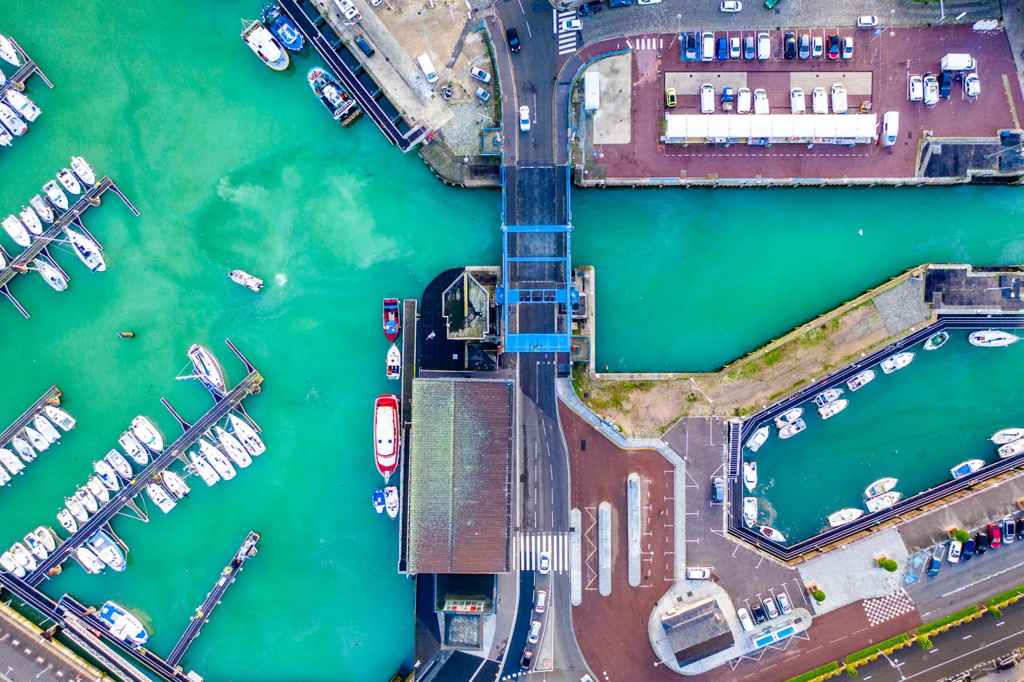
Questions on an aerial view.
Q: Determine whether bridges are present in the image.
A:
Yes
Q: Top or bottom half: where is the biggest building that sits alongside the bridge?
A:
bottom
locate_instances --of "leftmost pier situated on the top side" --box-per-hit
[0,36,56,117]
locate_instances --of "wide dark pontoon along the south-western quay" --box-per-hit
[0,563,64,621]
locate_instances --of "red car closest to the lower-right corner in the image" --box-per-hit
[987,523,1002,547]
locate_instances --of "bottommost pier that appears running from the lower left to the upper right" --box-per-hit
[167,532,260,668]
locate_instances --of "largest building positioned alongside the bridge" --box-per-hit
[408,377,514,574]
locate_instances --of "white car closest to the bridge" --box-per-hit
[519,106,531,133]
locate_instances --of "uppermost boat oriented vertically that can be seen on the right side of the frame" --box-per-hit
[742,459,757,493]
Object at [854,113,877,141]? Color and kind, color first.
white tent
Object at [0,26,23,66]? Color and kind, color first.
white boat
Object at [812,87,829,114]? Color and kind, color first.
white vehicle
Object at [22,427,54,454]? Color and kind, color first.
white boat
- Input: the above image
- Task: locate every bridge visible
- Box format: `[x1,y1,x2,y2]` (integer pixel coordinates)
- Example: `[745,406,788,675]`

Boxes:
[496,166,579,353]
